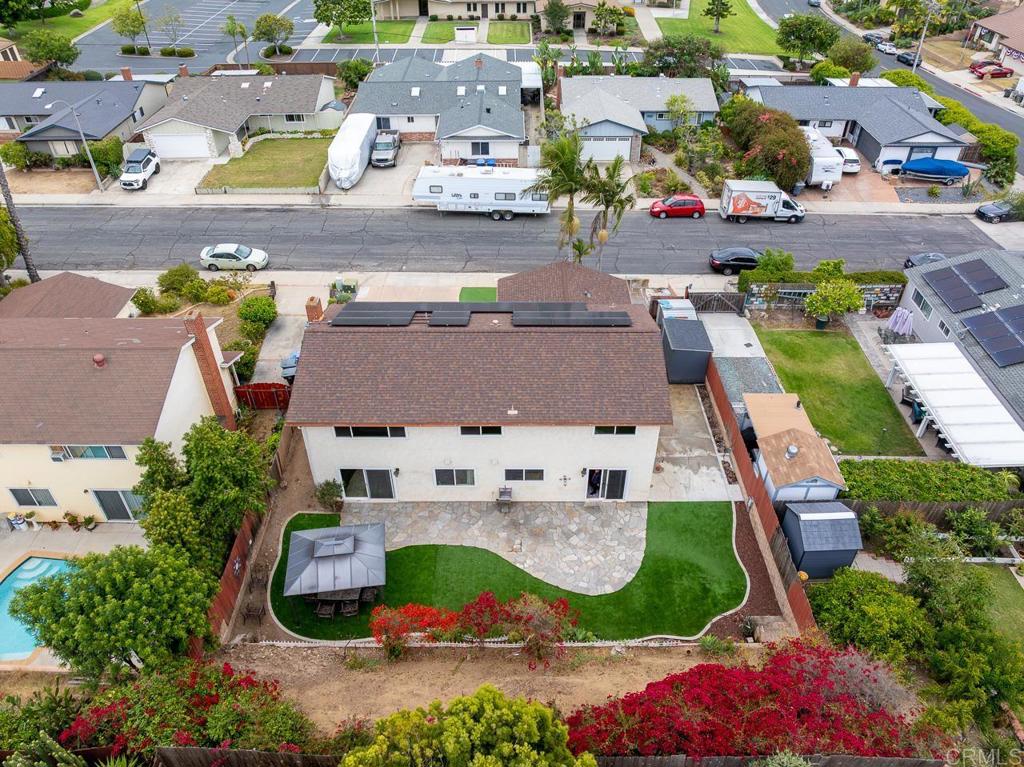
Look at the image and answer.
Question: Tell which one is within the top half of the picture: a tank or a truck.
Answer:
truck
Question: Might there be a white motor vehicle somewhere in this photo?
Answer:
Yes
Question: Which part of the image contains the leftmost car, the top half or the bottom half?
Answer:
top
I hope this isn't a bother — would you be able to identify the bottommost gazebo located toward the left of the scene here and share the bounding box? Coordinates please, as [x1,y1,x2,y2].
[284,521,387,628]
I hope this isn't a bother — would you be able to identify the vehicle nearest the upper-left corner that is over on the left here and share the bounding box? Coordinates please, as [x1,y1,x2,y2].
[111,148,164,189]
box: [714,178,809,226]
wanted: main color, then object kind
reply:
white truck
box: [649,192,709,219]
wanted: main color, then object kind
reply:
red car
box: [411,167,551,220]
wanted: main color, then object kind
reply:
white camper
